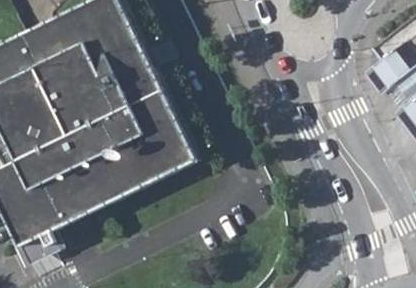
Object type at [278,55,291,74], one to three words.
vehicle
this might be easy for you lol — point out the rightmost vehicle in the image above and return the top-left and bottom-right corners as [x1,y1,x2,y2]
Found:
[354,232,366,256]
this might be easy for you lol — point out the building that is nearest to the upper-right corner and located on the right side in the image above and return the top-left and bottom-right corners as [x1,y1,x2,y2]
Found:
[373,12,416,59]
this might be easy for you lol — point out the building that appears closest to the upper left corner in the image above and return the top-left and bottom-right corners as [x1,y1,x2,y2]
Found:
[0,0,196,277]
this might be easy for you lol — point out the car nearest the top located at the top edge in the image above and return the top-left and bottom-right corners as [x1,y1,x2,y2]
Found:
[254,0,271,24]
